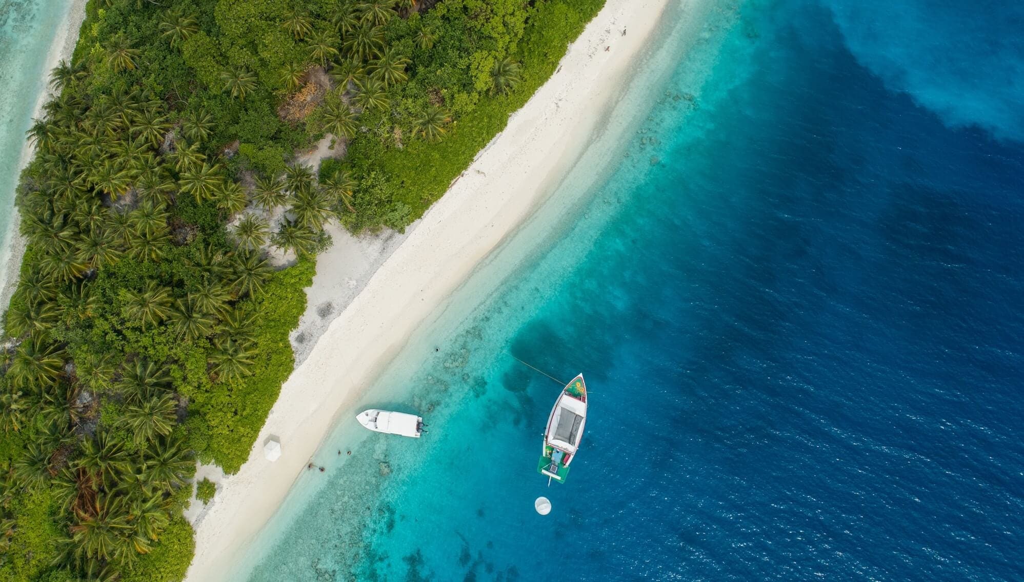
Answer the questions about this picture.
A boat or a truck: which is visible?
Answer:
boat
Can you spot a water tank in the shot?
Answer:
No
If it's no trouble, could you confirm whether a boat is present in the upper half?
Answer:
No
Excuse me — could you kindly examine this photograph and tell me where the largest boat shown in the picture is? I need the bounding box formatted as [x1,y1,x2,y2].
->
[537,373,588,487]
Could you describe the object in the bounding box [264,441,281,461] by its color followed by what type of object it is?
white umbrella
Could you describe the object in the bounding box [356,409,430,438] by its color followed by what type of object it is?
white boat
